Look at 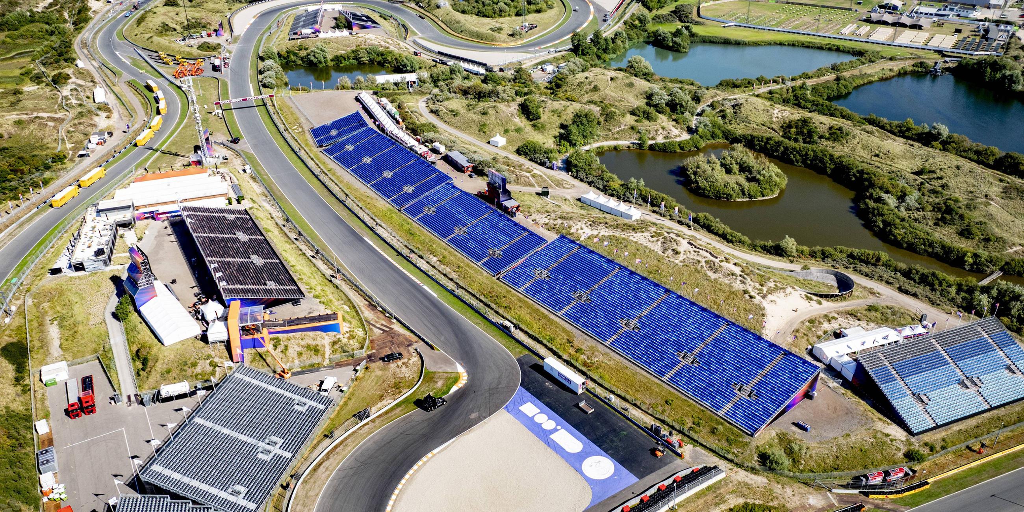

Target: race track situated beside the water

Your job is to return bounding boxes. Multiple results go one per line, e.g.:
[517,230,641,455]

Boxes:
[229,0,590,512]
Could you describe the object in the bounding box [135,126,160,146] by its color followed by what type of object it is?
yellow vehicle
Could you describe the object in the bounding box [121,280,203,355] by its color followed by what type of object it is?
white tent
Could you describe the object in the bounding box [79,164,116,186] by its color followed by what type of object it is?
yellow truck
